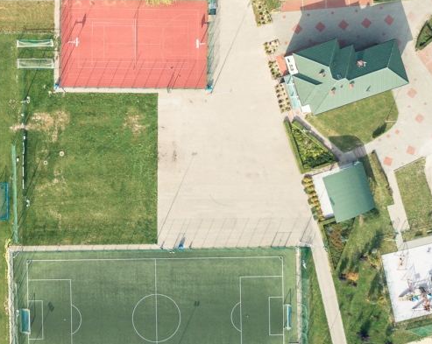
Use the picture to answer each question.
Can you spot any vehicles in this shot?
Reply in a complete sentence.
No, there's no vehicle here.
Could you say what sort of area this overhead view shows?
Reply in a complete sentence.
This looks like a sports ground.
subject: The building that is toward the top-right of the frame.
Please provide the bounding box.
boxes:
[280,38,408,115]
